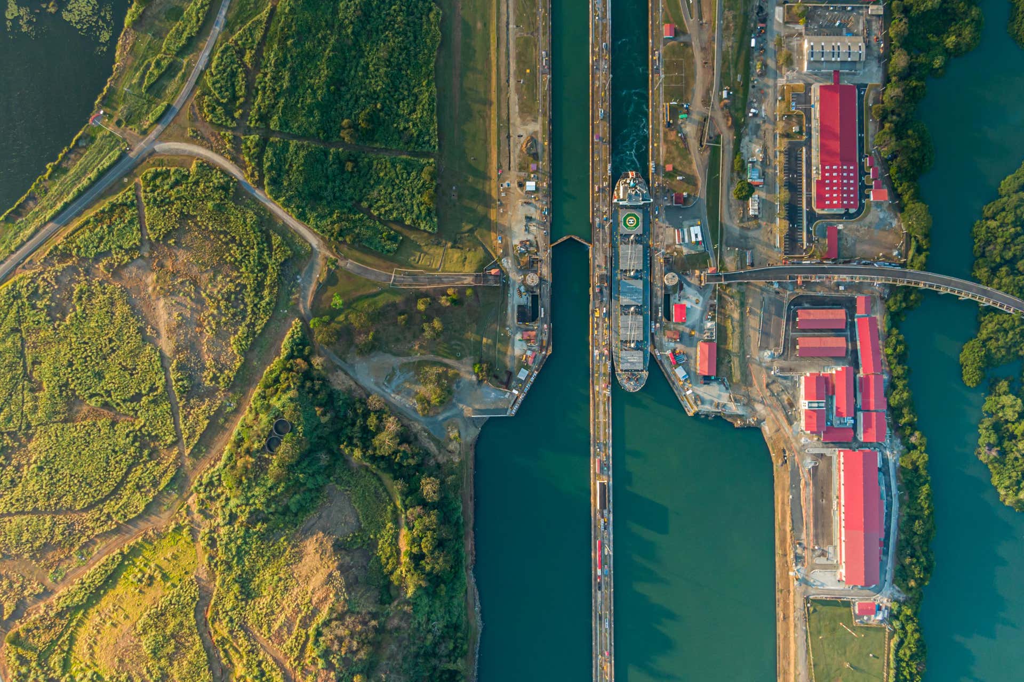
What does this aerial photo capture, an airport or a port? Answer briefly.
port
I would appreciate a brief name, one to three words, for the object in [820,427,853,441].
building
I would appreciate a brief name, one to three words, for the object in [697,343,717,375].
building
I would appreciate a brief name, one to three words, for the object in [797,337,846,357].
shed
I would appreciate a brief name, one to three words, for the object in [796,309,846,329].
shed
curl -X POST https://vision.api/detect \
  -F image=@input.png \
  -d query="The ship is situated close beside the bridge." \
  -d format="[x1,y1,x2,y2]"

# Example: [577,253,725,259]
[612,171,652,392]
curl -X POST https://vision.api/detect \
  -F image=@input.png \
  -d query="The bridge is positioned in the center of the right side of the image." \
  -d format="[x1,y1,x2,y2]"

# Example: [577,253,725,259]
[705,265,1024,325]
